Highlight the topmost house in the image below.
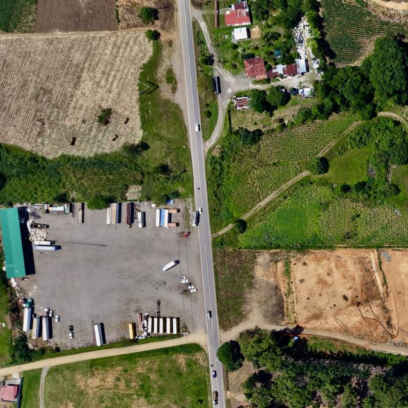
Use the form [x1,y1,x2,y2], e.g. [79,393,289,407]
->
[225,1,252,26]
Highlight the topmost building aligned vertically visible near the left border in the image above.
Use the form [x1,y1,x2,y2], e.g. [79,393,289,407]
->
[0,207,30,279]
